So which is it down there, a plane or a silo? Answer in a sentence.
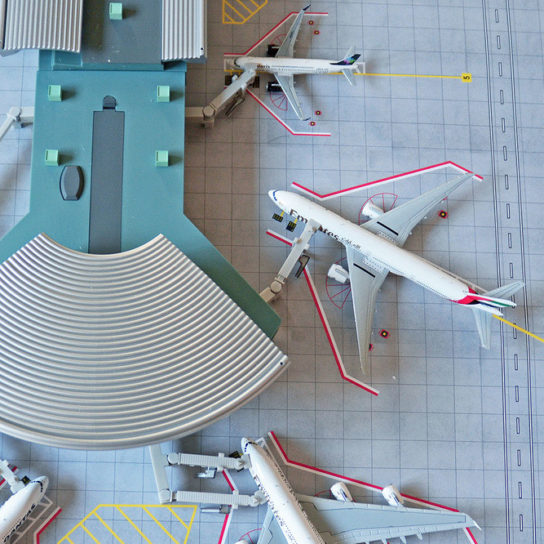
Looking from above, you can make out a plane.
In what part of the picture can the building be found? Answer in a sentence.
The building appears toward the left of the photo.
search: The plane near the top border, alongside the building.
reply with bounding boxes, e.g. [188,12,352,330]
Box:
[231,3,360,119]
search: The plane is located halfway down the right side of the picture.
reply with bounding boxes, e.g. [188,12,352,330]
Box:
[268,170,526,375]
